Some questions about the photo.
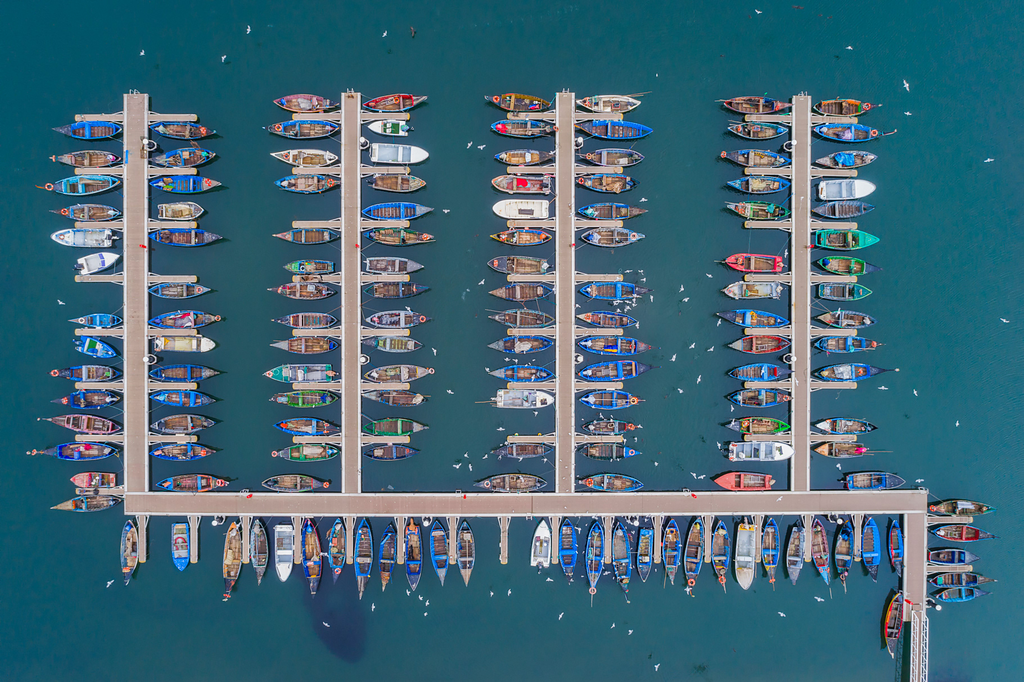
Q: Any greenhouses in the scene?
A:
No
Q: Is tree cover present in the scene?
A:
No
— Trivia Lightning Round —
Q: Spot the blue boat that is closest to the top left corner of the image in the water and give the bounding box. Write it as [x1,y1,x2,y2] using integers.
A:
[50,120,124,140]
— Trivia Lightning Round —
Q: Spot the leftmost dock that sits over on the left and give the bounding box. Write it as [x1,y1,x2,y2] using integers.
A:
[75,88,199,499]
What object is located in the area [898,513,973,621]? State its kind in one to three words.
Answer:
pier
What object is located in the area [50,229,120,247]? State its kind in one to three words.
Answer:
boat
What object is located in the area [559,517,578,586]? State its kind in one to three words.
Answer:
boat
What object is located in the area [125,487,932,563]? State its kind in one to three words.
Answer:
pier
